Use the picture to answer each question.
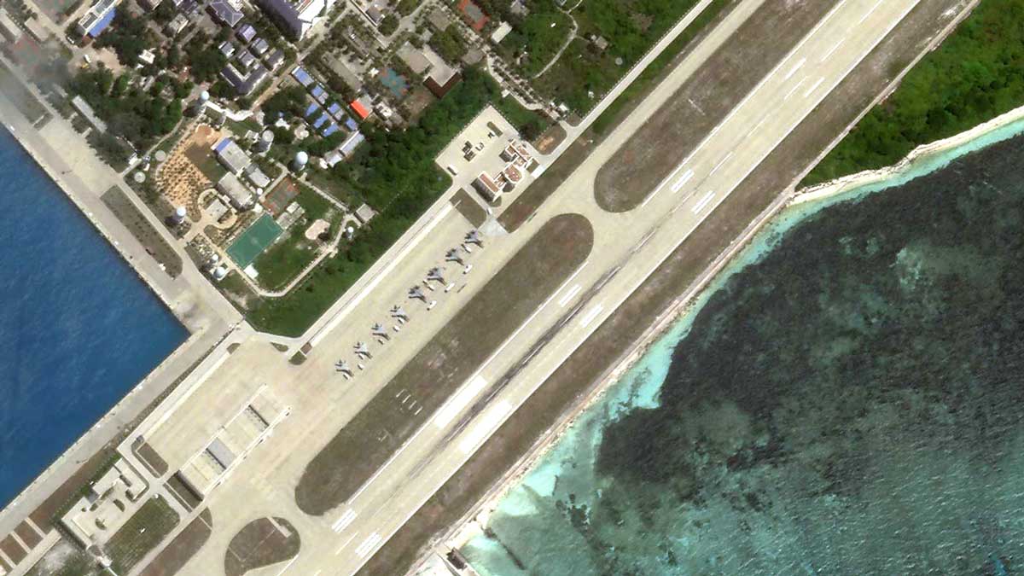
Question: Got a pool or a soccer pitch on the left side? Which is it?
soccer pitch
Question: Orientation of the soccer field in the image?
diagonally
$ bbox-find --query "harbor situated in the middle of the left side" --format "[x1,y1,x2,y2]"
[0,50,244,541]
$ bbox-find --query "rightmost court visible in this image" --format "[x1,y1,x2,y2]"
[457,0,490,30]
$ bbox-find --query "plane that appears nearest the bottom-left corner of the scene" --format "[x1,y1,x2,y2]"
[336,360,353,375]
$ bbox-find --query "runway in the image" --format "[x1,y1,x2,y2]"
[279,0,921,576]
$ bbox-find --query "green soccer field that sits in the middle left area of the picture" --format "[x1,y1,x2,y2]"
[225,213,282,267]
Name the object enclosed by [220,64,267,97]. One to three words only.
house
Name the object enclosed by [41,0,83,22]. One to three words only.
sports court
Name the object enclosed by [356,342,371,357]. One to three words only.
airplane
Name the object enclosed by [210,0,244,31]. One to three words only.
building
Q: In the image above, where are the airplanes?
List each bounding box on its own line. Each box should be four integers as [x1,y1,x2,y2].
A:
[336,360,353,375]
[447,249,463,264]
[466,231,482,246]
[373,323,389,338]
[430,269,446,284]
[410,285,425,301]
[392,305,408,320]
[356,342,371,357]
